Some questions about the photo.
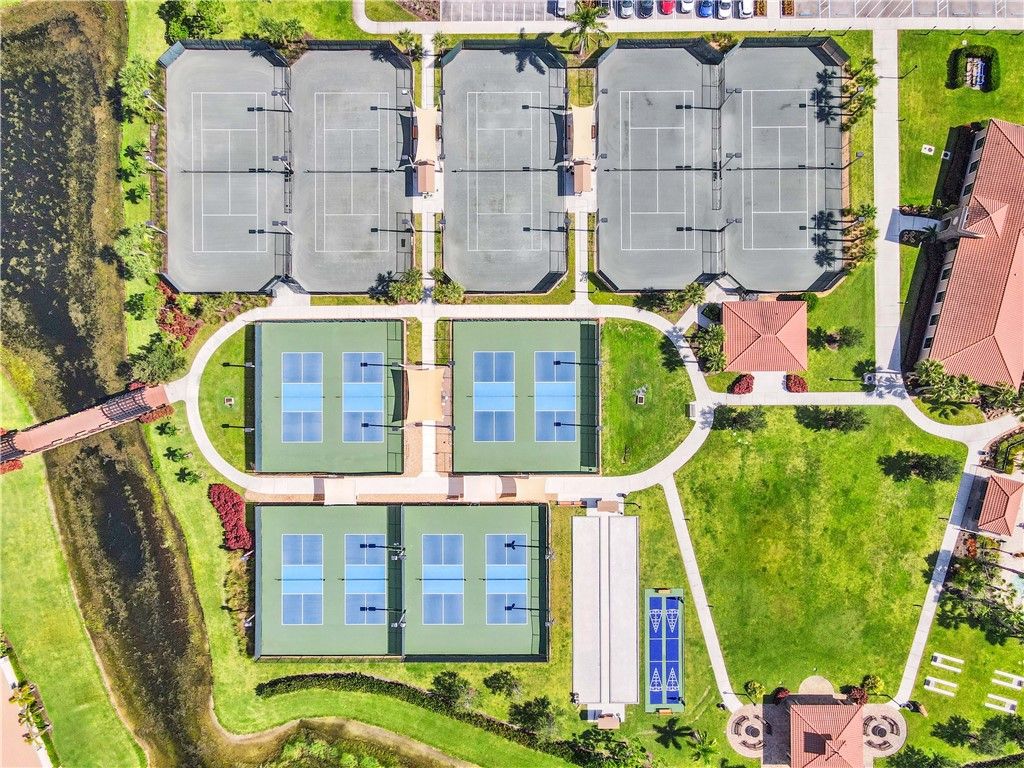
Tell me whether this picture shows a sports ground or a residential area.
sports ground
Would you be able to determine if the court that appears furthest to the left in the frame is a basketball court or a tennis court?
tennis court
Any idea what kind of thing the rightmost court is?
tennis court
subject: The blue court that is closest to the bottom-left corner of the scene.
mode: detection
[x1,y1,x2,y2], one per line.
[277,534,327,625]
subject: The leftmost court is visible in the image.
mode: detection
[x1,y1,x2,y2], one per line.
[166,49,290,293]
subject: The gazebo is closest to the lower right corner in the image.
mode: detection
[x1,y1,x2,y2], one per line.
[785,698,863,768]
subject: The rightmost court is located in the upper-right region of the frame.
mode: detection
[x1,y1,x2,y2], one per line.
[722,47,844,290]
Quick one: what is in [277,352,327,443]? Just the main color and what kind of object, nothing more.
blue sports court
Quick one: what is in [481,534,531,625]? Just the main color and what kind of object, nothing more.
blue sports court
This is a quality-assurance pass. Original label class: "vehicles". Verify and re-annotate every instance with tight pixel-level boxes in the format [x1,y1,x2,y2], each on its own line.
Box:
[739,0,755,17]
[662,0,675,13]
[597,0,612,14]
[640,0,655,16]
[699,0,715,15]
[681,0,694,11]
[554,0,569,13]
[718,0,733,17]
[620,0,636,16]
